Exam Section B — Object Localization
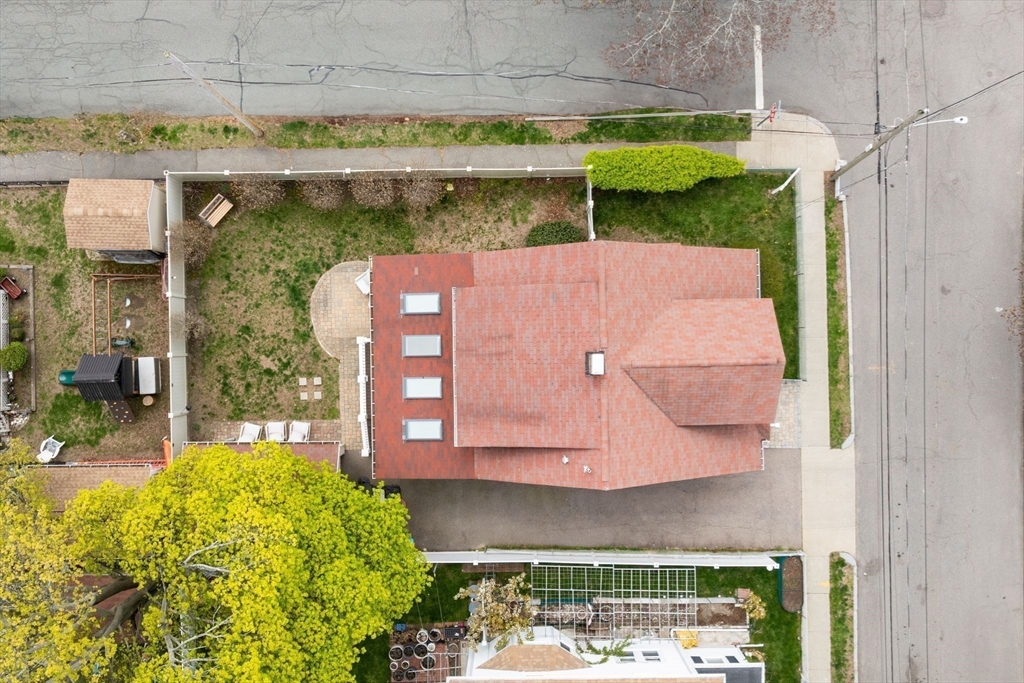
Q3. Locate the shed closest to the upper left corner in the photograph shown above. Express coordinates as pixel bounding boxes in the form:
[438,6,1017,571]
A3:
[63,178,168,253]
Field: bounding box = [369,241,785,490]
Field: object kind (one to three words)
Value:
house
